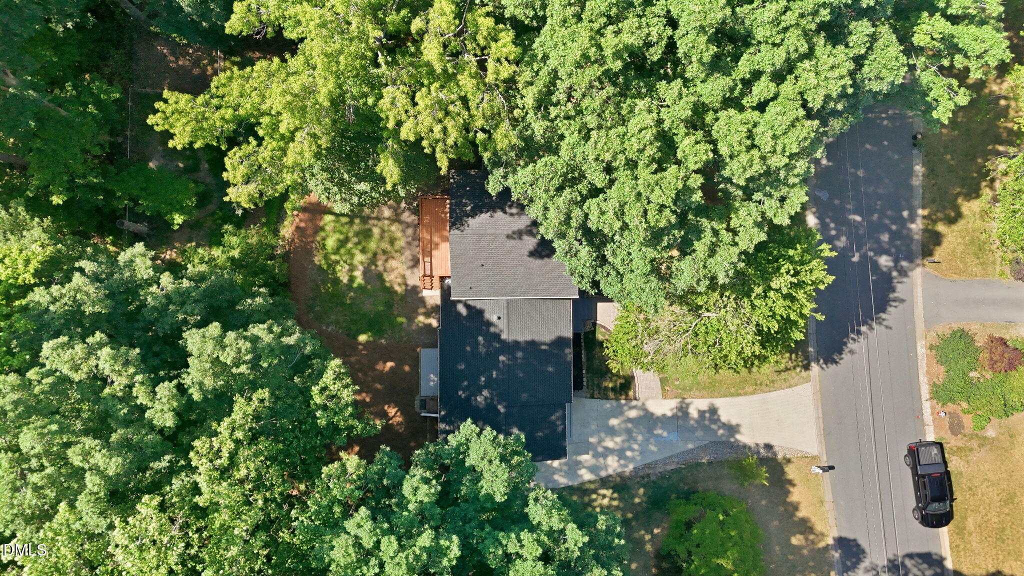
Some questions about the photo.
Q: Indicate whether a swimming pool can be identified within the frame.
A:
No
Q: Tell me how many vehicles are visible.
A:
1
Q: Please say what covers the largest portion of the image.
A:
trees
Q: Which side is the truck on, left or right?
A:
right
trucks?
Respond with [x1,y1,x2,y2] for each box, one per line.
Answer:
[907,437,958,534]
